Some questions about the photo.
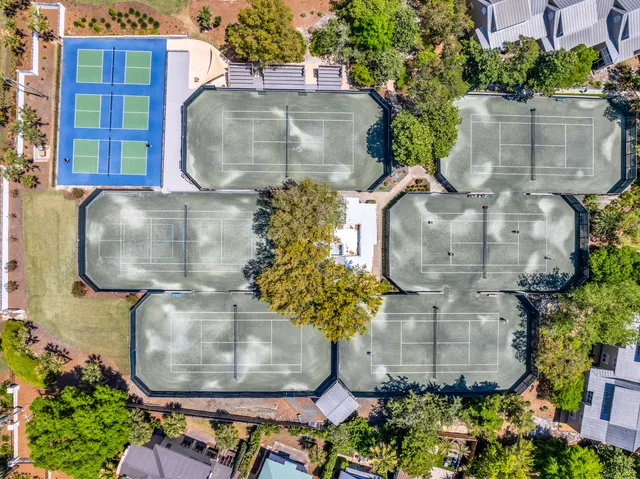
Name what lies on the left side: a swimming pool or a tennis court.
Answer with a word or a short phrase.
tennis court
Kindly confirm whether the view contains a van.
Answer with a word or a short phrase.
No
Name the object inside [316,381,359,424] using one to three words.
building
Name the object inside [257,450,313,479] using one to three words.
house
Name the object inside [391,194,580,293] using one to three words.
tennis court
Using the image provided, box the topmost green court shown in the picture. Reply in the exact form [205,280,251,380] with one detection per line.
[76,46,152,86]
